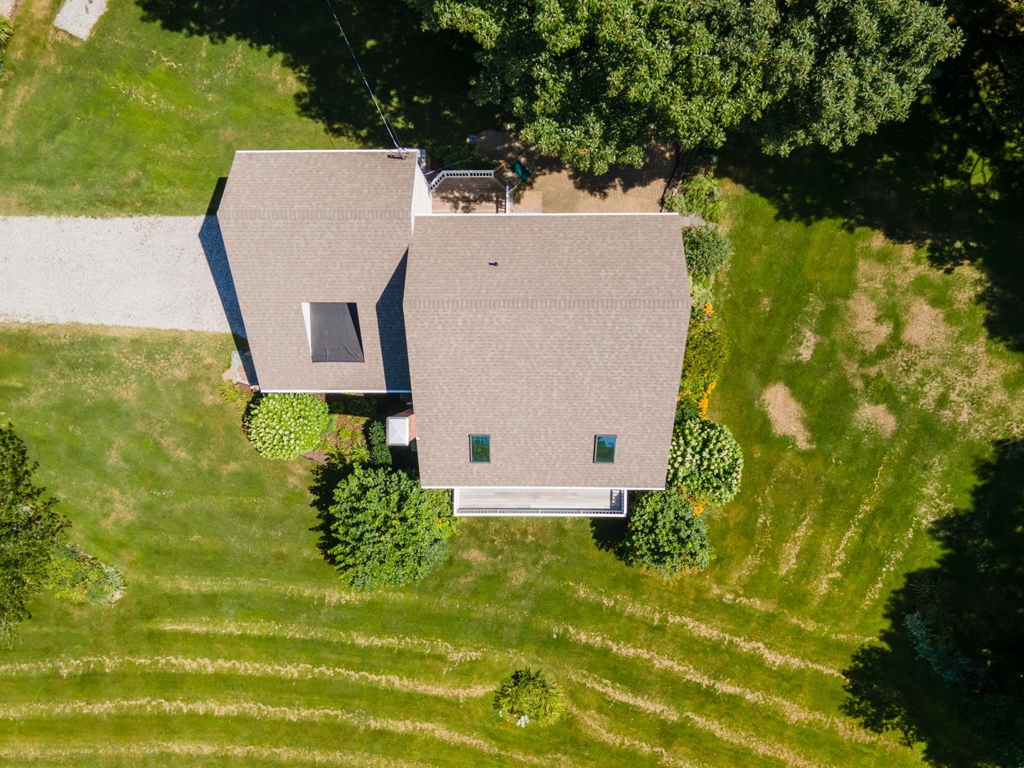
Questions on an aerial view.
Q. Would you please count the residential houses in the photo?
1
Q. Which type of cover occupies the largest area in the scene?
grass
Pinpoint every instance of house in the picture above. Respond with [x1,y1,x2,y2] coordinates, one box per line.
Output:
[217,148,691,492]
